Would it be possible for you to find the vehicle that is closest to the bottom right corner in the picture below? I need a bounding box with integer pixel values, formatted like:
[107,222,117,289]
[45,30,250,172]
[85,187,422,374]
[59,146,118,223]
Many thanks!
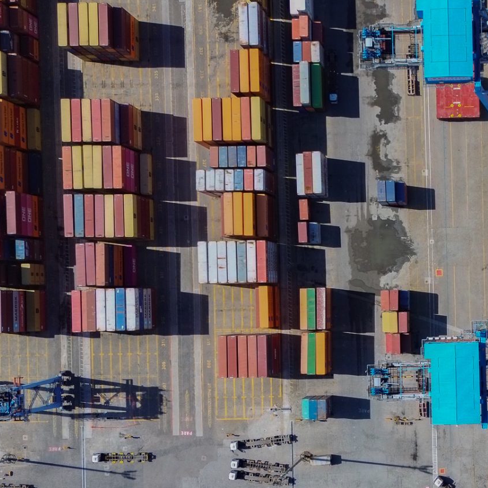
[434,475,453,488]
